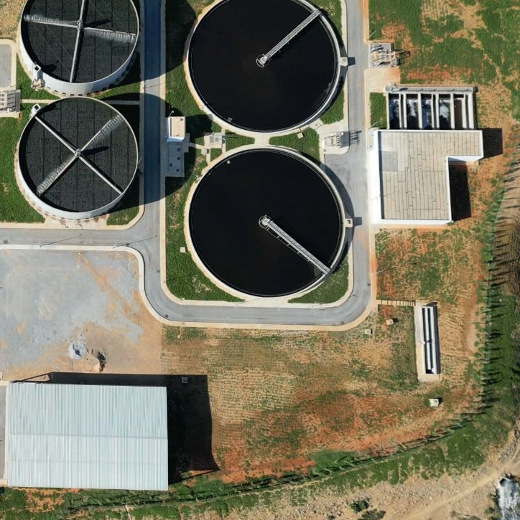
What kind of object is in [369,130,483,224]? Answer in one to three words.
house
